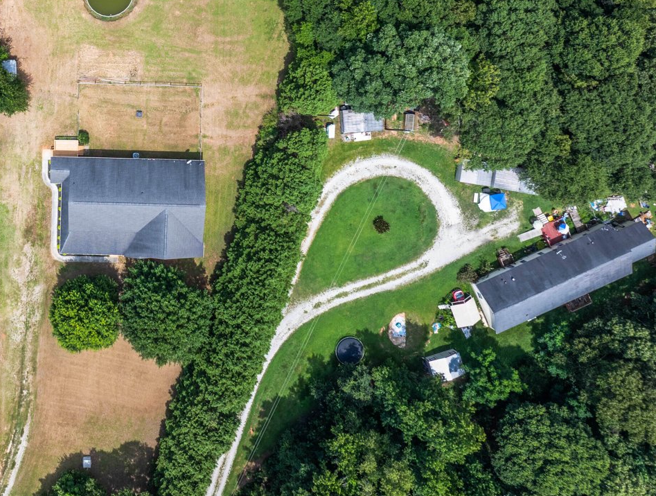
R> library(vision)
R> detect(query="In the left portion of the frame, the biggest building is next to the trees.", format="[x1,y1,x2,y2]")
[50,156,207,261]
